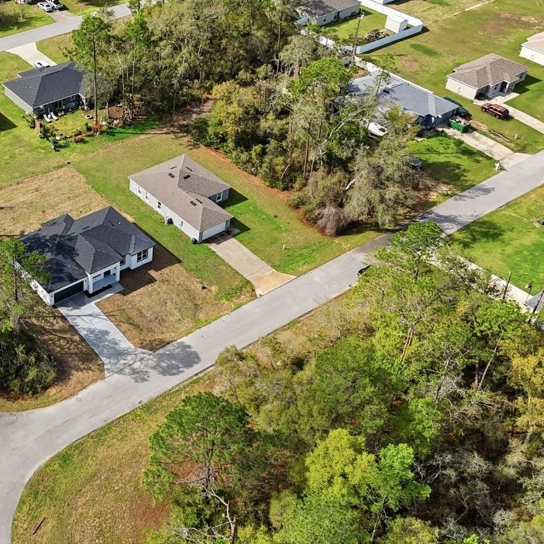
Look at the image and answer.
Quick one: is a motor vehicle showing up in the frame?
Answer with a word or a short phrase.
Yes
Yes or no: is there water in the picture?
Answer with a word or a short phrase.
No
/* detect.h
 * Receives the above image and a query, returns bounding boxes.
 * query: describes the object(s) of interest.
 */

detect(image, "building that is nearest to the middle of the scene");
[124,154,234,244]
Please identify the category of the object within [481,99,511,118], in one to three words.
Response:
car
